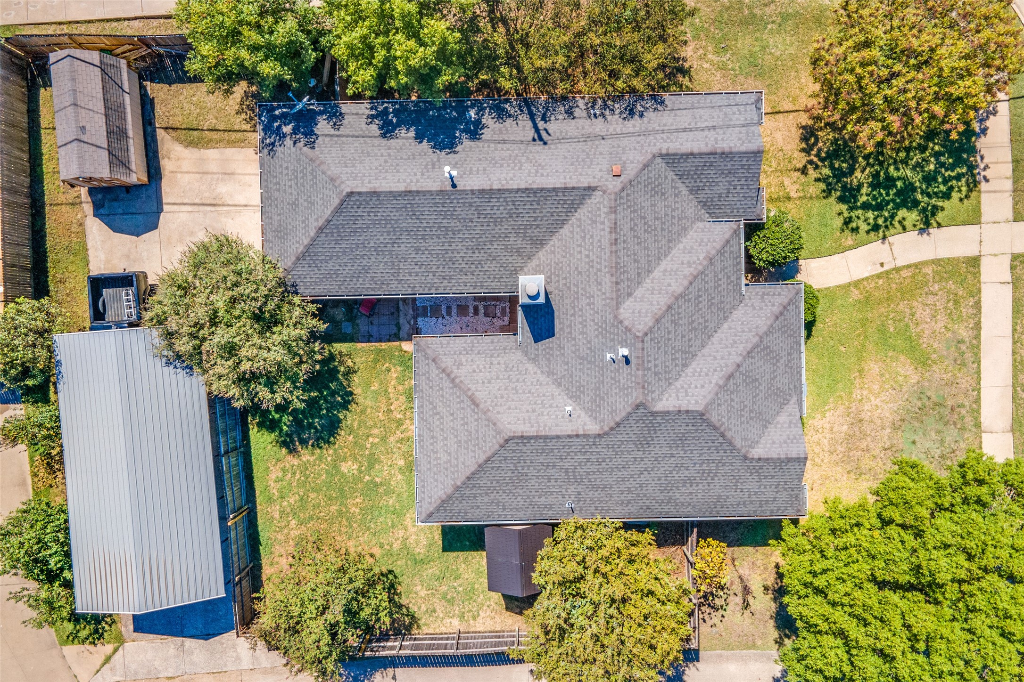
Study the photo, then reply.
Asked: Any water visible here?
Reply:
No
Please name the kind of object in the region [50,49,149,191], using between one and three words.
shed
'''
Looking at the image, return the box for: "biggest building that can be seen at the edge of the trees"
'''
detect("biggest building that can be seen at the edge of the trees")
[258,91,808,525]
